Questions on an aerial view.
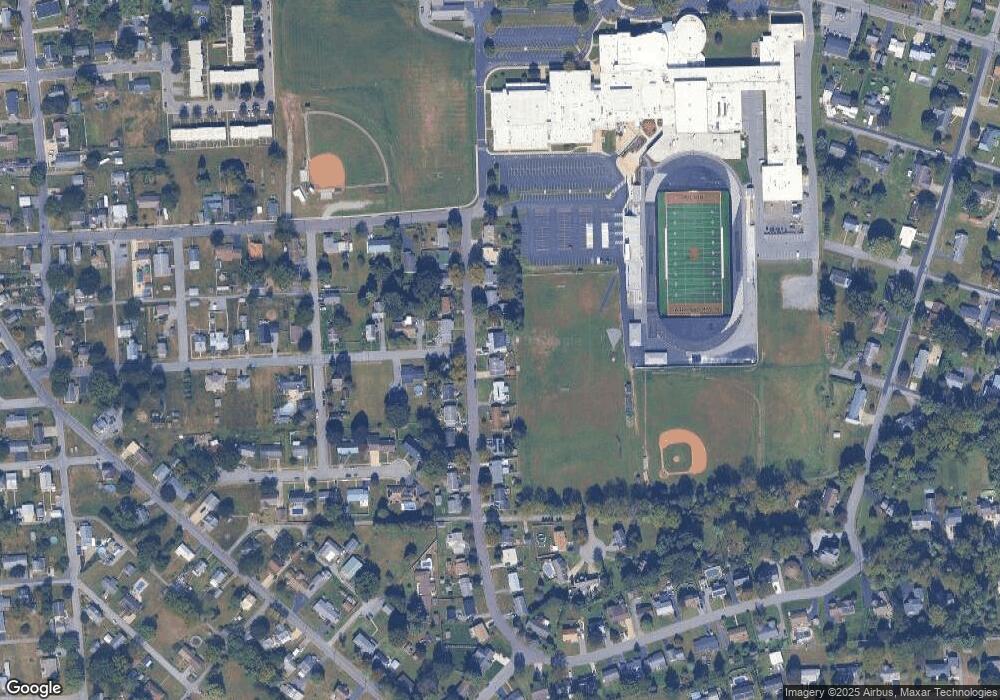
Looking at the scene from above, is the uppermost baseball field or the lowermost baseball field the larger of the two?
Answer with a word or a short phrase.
the uppermost baseball field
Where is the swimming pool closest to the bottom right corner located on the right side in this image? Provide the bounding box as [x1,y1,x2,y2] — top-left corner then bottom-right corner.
[796,627,814,641]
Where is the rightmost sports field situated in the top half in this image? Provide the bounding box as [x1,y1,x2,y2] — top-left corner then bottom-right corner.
[657,192,731,316]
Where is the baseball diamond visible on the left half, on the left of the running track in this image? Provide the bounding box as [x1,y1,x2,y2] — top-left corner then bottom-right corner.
[305,110,389,191]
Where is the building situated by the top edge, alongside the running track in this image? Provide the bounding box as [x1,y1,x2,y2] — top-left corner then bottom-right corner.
[491,14,805,200]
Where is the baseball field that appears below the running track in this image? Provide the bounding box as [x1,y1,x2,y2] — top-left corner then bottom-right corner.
[659,429,707,477]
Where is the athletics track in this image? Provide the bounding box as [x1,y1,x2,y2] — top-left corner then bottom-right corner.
[646,156,756,359]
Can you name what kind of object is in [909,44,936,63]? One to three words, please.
house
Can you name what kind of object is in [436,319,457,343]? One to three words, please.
house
